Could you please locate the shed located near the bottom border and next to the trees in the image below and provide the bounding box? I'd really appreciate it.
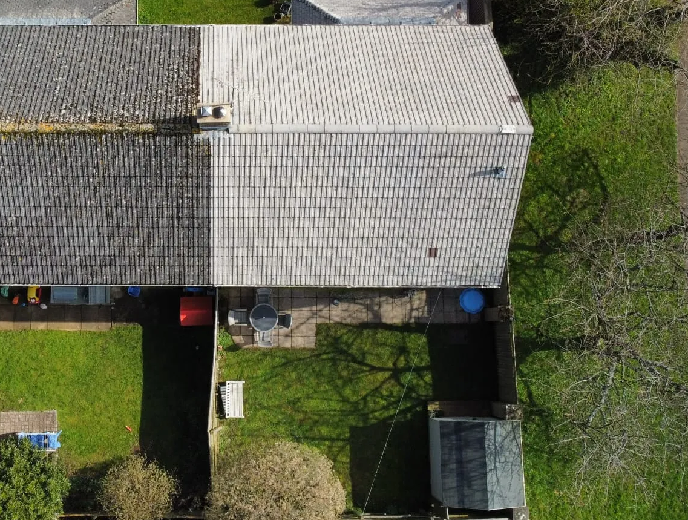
[430,416,525,511]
